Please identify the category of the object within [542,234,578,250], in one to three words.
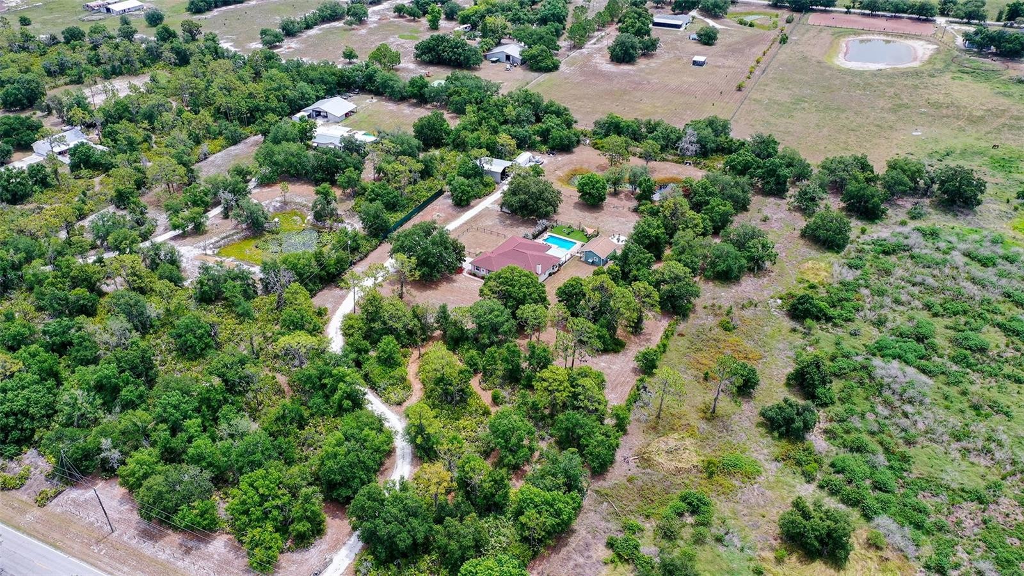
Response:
swimming pool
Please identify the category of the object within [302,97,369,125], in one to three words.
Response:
building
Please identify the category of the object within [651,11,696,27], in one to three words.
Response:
house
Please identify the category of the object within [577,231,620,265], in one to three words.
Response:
shed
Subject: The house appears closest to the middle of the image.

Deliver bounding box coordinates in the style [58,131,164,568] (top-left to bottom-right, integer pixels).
[469,235,560,282]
